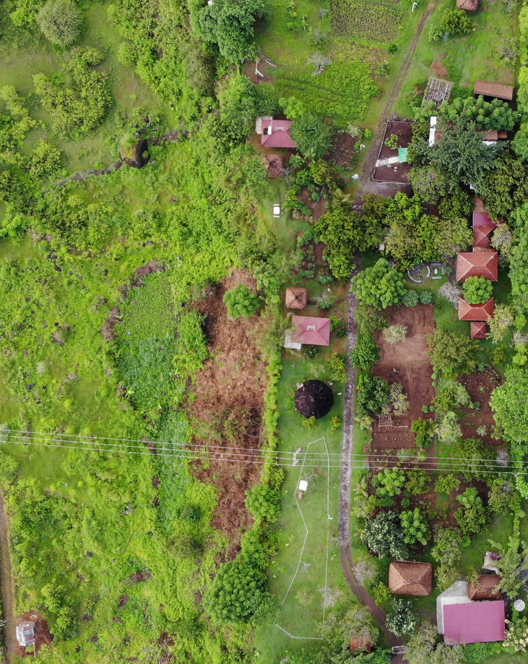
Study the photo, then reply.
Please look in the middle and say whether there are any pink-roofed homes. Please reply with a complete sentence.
Yes, a pink-roofed home can be seen in the middle.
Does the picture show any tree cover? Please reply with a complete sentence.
Yes, the picture does contain tree cover.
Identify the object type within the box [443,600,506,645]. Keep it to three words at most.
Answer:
house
